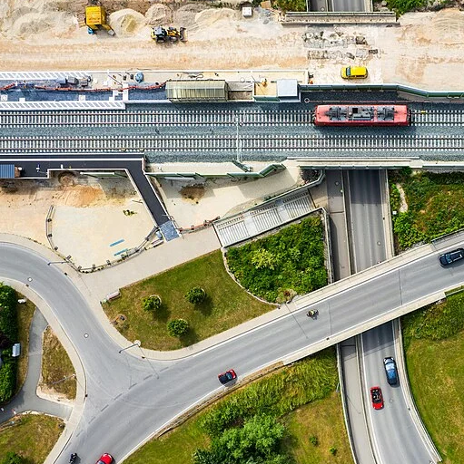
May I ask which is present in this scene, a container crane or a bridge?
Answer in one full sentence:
This aerial view contains a bridge.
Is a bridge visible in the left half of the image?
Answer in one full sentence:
No, there's no bridge to be seen in the left half of the image.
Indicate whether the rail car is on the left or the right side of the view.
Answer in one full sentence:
The rail car sits on the right side.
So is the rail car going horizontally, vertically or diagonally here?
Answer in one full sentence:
Seen from above, the rail car lies horizontally.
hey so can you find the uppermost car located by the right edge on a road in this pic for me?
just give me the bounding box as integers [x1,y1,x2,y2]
[438,247,464,265]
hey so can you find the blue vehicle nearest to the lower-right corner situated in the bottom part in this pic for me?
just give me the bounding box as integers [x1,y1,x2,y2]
[383,356,397,383]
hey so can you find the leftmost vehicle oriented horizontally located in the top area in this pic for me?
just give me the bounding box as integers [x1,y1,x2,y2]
[150,26,187,44]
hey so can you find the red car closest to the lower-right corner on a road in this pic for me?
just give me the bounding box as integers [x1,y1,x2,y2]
[371,386,383,410]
